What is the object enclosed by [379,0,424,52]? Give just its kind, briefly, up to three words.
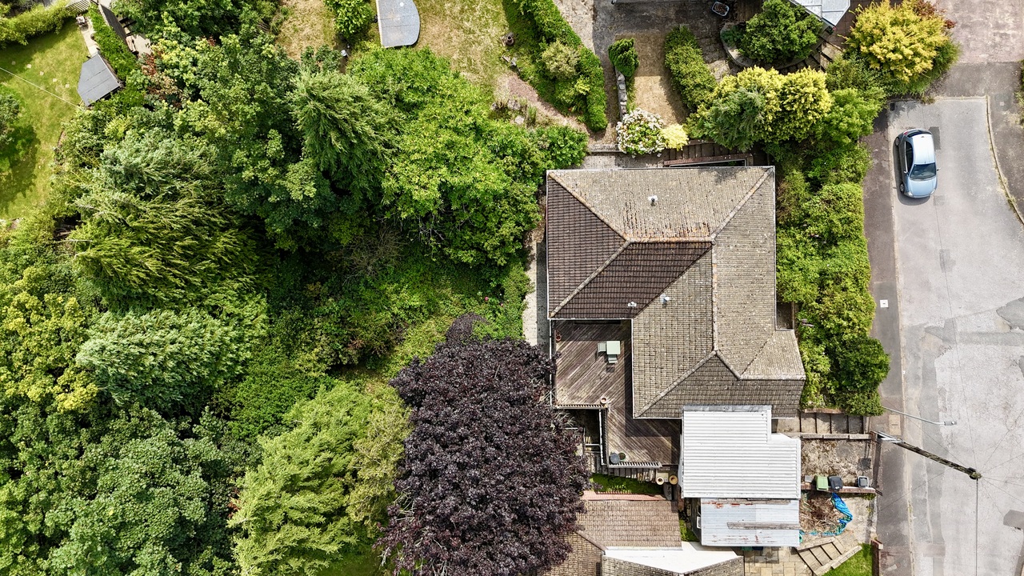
shed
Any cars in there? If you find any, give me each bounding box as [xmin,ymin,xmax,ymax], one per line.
[896,130,942,198]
